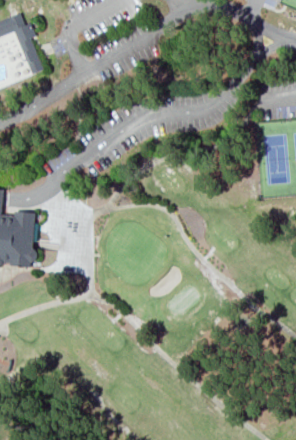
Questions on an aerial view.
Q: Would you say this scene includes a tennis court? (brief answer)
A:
Yes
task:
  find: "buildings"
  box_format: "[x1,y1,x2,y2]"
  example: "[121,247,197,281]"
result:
[0,12,43,73]
[0,190,42,270]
